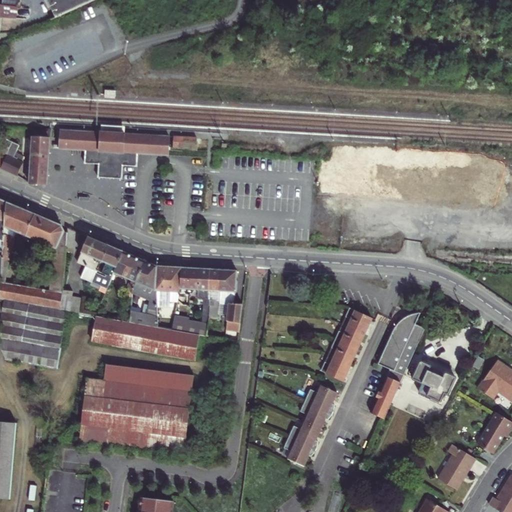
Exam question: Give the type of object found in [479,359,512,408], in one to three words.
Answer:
house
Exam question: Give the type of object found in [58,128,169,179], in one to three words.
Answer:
train station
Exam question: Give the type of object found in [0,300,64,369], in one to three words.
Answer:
building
